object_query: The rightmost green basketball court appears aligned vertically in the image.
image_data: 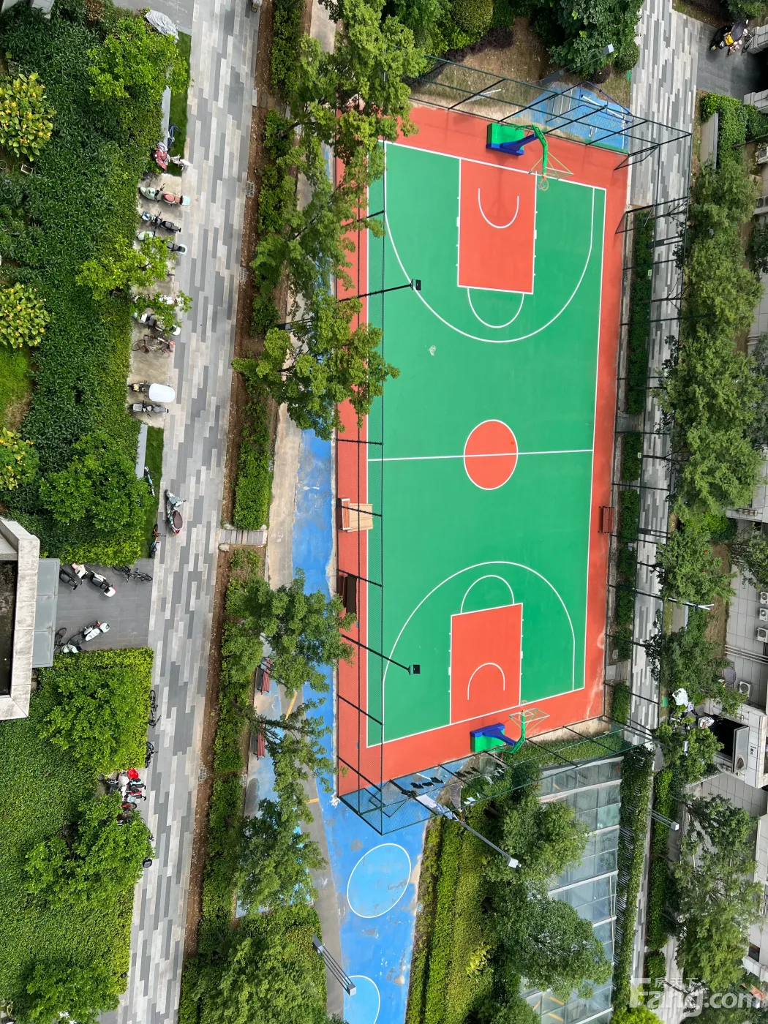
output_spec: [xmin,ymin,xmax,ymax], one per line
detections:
[337,87,628,797]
